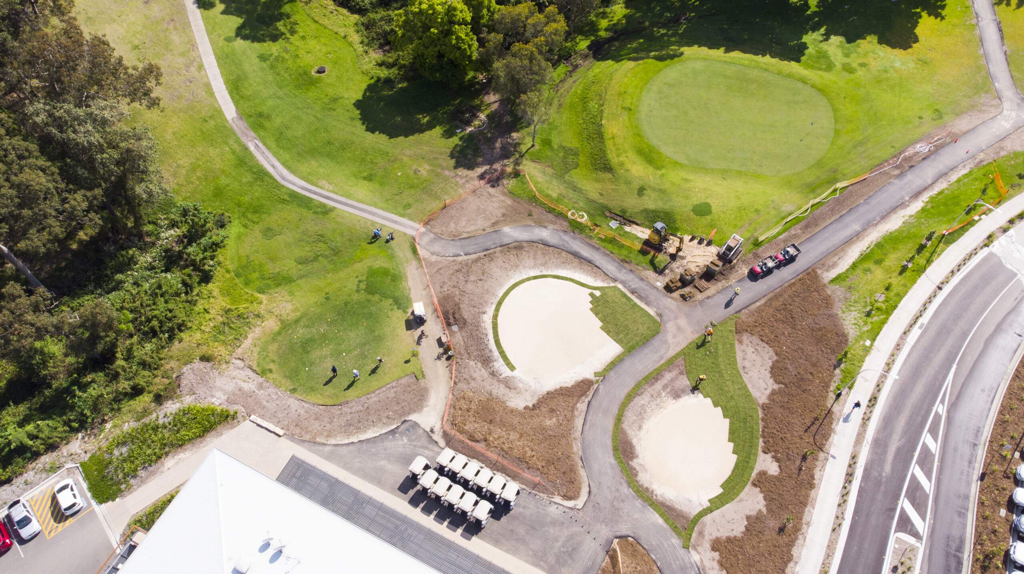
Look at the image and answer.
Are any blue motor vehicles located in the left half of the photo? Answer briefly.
No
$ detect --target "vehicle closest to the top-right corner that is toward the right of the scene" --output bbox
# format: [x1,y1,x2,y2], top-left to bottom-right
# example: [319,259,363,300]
[774,242,802,265]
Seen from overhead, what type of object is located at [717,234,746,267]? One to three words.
work vehicle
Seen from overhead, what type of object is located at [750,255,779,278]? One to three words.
vehicle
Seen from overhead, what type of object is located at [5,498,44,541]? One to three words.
car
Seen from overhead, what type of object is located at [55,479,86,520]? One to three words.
car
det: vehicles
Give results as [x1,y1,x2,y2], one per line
[0,528,14,560]
[413,301,428,324]
[750,255,779,278]
[717,234,746,267]
[417,470,441,499]
[406,456,430,485]
[485,475,508,505]
[430,477,454,506]
[1009,492,1024,512]
[469,500,493,530]
[5,498,44,541]
[443,485,467,514]
[774,242,802,265]
[459,462,482,491]
[498,482,521,512]
[472,469,495,498]
[1006,543,1024,564]
[456,492,479,522]
[434,448,457,477]
[644,229,685,257]
[55,479,86,520]
[446,454,470,483]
